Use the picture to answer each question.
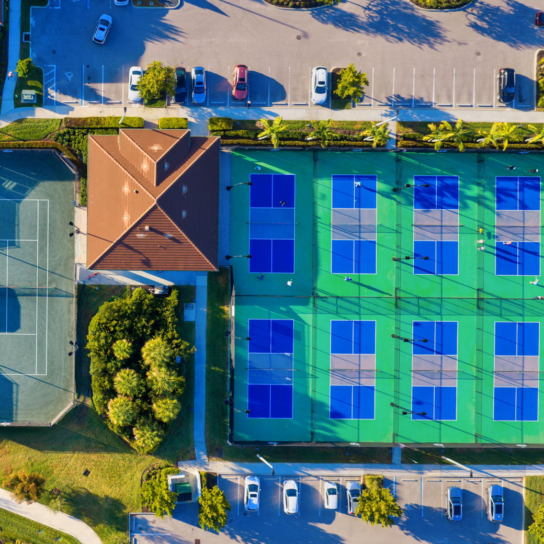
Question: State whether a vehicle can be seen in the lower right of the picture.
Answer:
Yes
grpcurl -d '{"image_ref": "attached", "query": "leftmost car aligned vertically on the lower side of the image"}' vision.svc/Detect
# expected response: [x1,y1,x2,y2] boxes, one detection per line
[244,475,262,512]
